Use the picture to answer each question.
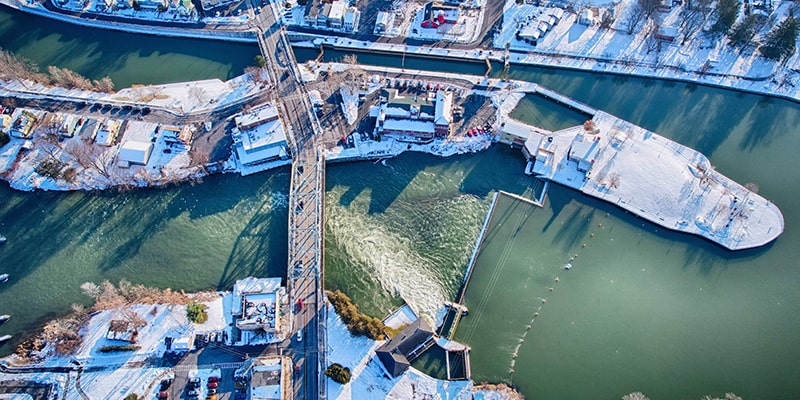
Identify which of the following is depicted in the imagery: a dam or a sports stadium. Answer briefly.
dam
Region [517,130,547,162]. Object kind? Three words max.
house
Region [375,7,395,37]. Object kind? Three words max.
building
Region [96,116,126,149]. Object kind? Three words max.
house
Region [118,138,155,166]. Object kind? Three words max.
building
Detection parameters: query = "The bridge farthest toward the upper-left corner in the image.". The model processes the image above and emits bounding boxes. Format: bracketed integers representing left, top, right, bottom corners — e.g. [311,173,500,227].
[261,30,315,72]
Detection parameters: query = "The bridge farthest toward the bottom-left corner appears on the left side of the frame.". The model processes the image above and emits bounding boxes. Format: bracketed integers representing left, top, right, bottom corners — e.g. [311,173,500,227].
[291,146,327,306]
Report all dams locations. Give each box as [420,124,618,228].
[445,180,551,303]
